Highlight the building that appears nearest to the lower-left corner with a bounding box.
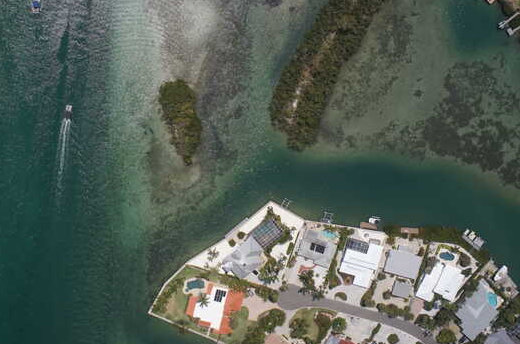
[186,282,243,334]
